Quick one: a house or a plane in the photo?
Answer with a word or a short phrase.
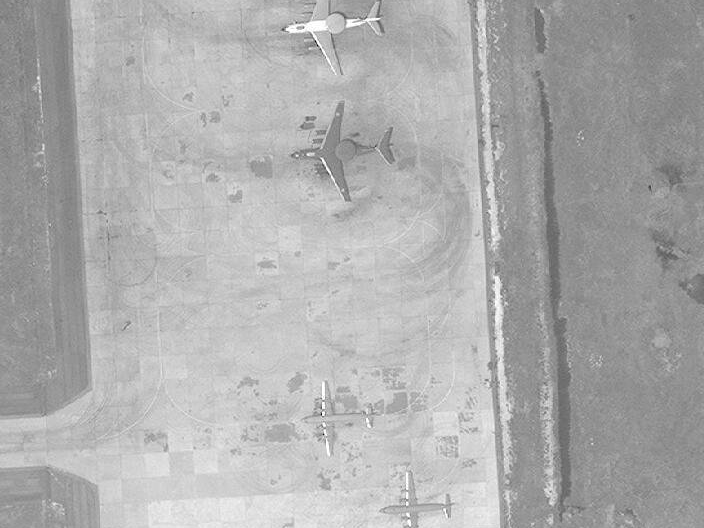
plane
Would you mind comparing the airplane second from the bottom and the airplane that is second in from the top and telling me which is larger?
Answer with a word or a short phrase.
the airplane that is second in from the top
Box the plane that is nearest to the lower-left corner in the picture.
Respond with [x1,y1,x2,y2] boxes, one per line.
[302,380,375,456]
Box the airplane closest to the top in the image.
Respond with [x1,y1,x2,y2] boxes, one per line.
[282,0,383,75]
